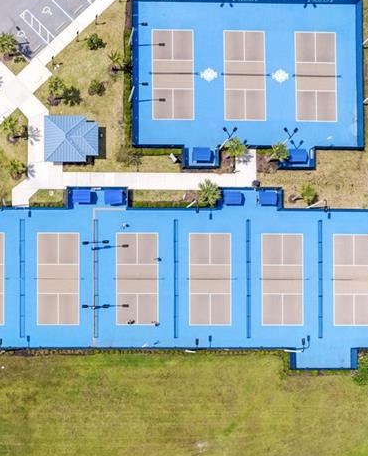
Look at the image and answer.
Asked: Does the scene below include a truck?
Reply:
No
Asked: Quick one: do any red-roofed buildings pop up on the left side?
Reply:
No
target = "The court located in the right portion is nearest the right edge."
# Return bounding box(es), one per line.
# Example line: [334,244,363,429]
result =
[330,234,368,325]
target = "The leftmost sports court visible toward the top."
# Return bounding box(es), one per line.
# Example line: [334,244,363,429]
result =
[150,29,198,120]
